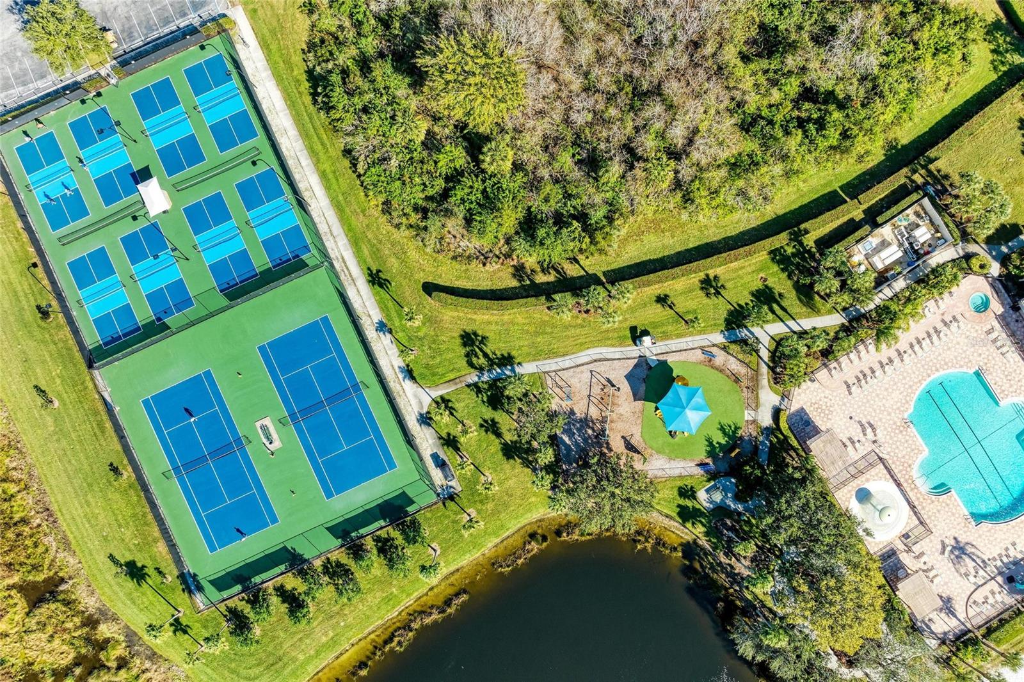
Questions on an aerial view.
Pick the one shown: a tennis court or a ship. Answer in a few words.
tennis court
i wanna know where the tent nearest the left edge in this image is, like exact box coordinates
[137,177,174,219]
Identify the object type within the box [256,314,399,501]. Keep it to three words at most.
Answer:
tennis court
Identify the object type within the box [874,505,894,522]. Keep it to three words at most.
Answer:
fountain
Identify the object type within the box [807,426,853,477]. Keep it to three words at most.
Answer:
building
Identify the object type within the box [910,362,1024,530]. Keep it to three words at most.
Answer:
swimming pool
